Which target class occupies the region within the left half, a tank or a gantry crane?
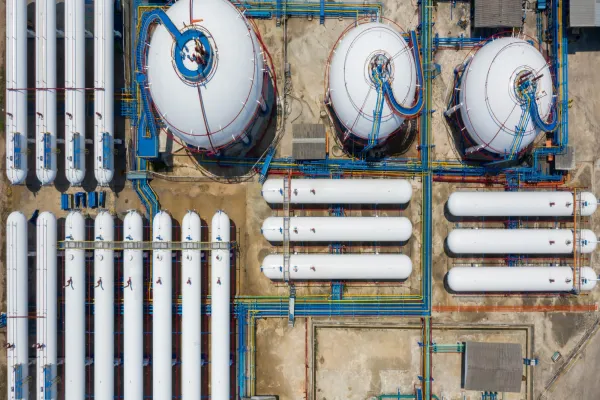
tank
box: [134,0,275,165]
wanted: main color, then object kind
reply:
white storage tank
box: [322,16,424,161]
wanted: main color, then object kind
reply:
white storage tank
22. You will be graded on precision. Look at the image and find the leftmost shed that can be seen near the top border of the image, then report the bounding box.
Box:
[471,0,524,32]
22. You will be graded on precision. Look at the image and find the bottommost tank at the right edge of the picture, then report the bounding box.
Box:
[447,261,600,293]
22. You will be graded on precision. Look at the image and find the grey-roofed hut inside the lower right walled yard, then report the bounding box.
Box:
[459,340,524,392]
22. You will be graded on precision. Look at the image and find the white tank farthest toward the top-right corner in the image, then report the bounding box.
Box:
[437,30,565,166]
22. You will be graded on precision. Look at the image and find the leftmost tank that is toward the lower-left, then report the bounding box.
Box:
[2,210,35,400]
